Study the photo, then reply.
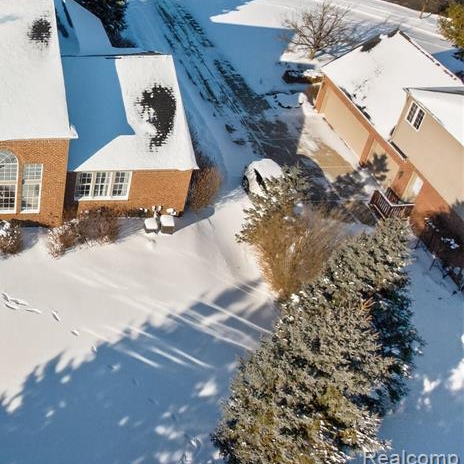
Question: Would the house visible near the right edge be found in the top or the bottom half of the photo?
top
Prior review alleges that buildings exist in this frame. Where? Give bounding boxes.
[0,0,199,227]
[316,21,464,257]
